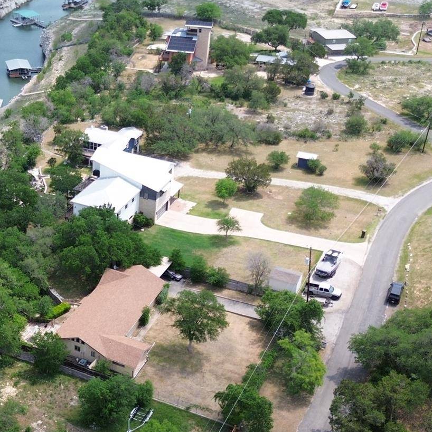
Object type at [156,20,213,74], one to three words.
house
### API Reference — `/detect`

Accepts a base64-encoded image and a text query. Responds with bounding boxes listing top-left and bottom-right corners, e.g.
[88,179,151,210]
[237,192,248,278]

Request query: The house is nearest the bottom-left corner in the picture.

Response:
[56,261,167,382]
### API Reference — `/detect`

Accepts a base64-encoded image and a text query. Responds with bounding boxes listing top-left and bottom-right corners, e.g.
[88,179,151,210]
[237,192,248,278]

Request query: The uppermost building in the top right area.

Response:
[306,26,356,59]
